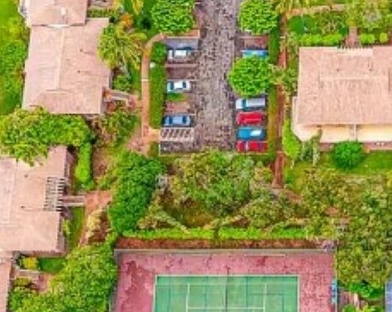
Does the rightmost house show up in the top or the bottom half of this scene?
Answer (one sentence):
The rightmost house is in the top half of the image.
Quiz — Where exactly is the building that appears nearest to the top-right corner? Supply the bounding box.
[290,45,392,152]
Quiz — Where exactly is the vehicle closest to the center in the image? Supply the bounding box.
[164,114,193,128]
